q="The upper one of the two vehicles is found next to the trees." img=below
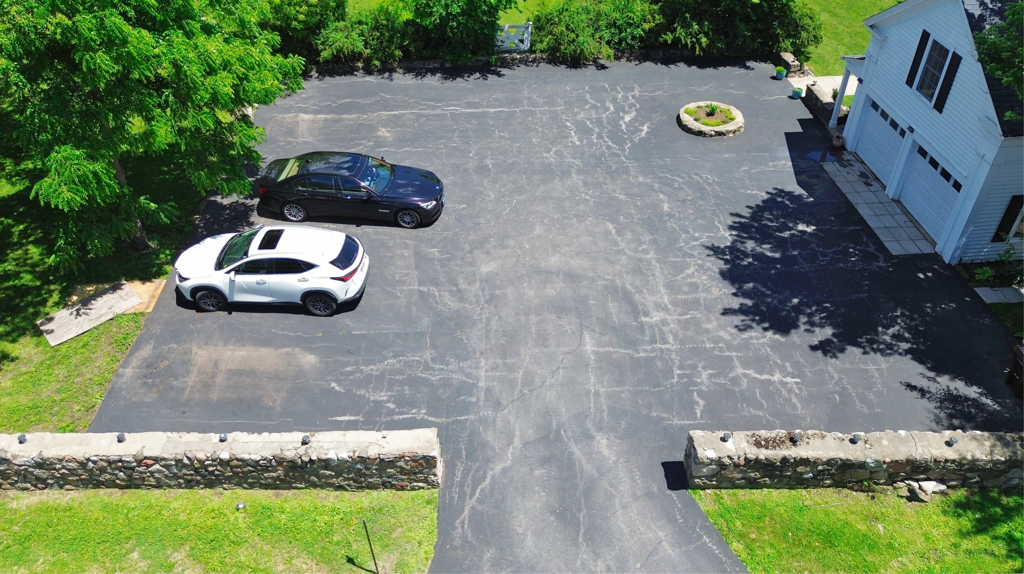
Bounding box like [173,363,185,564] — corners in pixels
[258,151,447,227]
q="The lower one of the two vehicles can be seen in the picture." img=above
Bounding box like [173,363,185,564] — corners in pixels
[174,220,372,315]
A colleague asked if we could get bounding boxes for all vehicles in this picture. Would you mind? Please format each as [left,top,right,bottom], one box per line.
[258,151,447,227]
[174,220,372,315]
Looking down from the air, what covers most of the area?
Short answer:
paved ground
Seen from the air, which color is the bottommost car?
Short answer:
white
